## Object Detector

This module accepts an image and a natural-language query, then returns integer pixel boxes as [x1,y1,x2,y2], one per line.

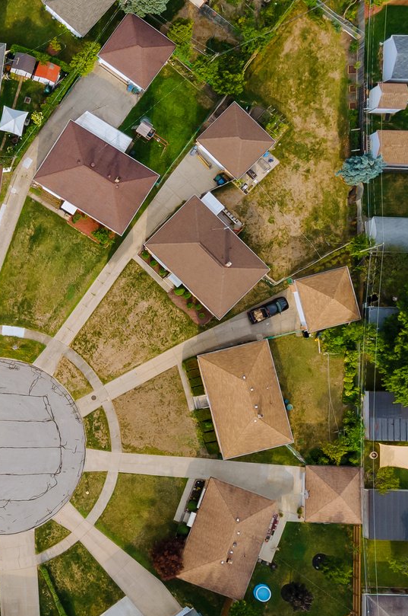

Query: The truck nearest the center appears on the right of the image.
[248,296,292,324]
